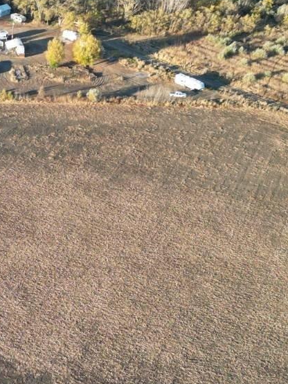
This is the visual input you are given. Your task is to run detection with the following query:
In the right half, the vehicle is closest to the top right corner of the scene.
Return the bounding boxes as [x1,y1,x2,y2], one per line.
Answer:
[176,72,210,90]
